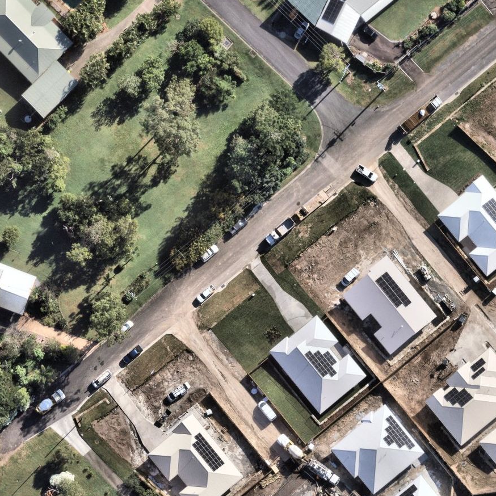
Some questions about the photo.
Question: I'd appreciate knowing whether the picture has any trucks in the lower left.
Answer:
Yes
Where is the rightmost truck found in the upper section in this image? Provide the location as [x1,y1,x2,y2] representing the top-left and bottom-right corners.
[401,93,447,137]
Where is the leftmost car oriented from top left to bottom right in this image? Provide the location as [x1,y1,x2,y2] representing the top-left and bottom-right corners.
[254,399,279,424]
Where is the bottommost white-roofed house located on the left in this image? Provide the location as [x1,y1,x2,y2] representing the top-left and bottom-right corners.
[148,414,243,496]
